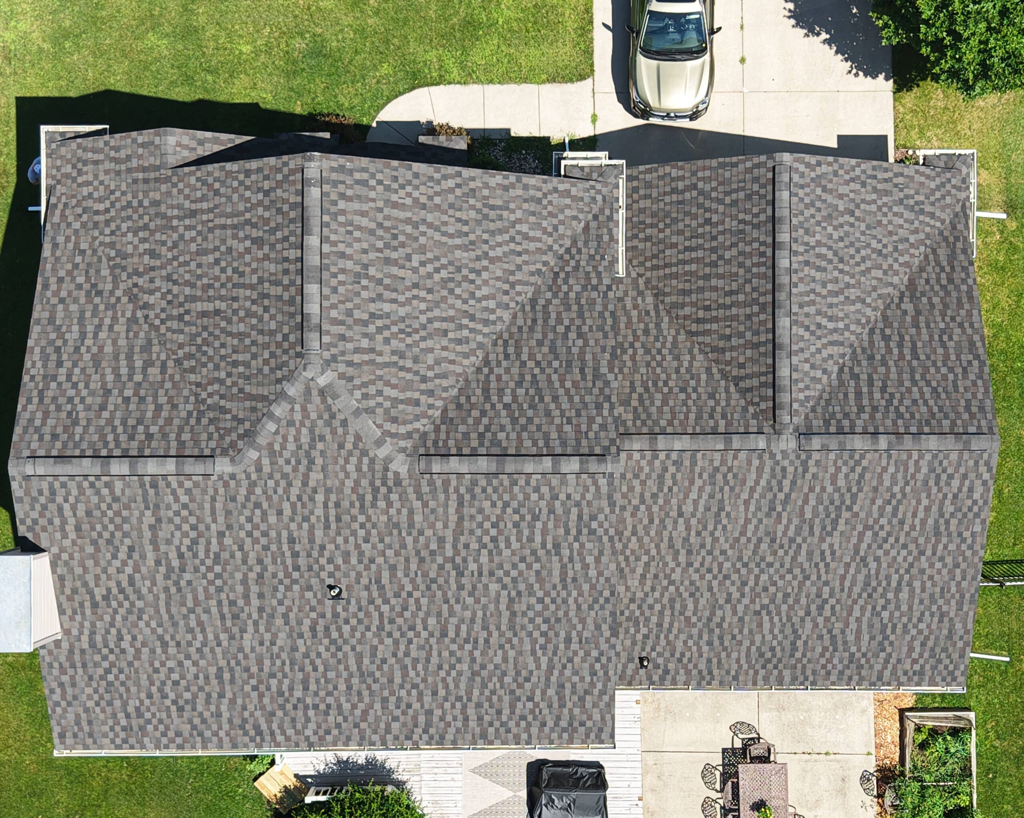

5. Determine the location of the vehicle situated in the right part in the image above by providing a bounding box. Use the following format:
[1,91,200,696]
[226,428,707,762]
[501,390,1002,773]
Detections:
[618,0,728,125]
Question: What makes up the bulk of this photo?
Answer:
buildings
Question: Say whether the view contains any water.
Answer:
No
